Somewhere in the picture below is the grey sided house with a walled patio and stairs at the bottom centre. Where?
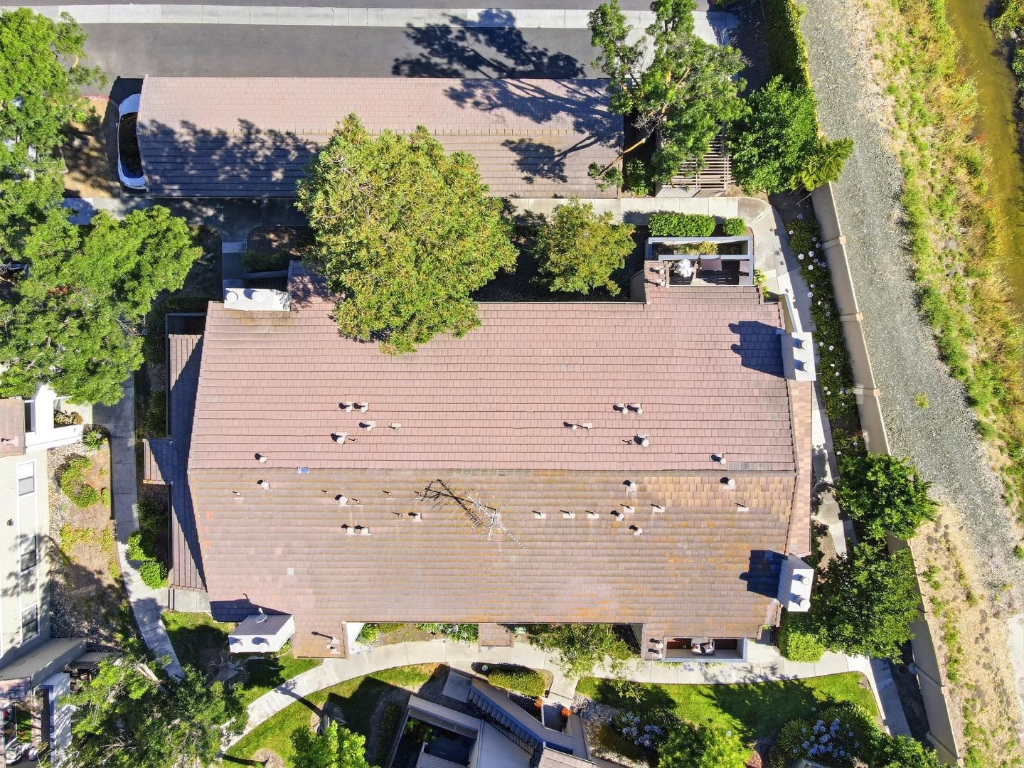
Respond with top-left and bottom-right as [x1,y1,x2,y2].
[389,670,599,768]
